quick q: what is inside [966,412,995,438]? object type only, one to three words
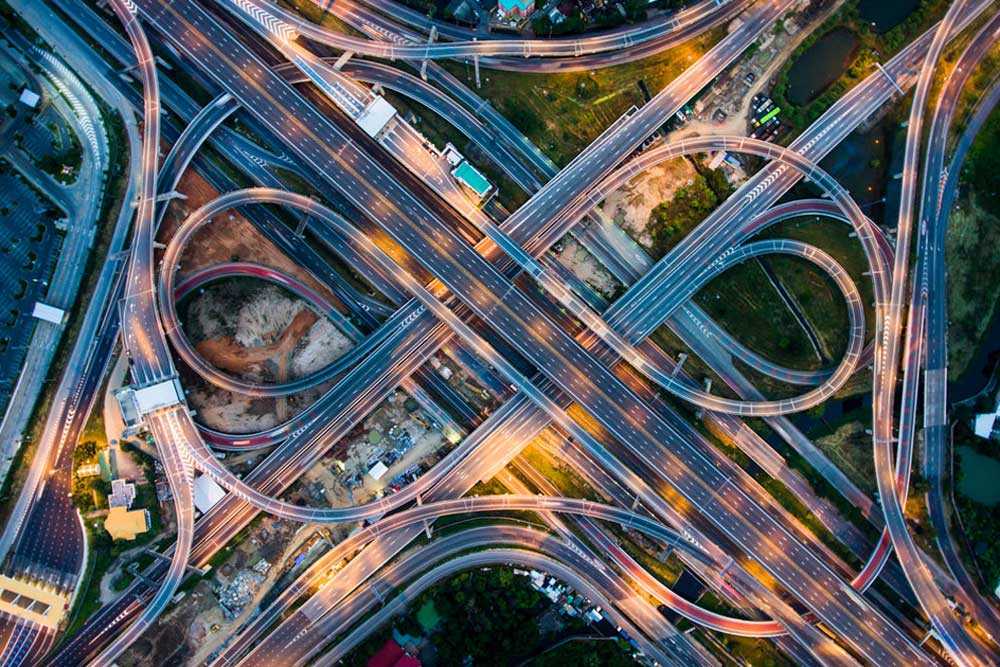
building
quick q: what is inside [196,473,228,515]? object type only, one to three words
building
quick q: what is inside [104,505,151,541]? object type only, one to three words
house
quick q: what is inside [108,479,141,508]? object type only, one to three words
house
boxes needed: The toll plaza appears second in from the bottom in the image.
[132,350,181,426]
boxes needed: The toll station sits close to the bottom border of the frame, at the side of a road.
[0,571,73,652]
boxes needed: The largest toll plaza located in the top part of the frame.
[332,79,420,148]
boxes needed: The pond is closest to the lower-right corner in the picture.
[958,446,1000,502]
